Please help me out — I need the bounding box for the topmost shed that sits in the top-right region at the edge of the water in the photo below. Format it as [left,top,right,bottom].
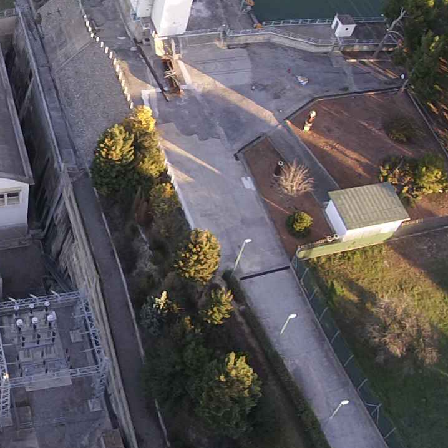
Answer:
[328,13,360,41]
